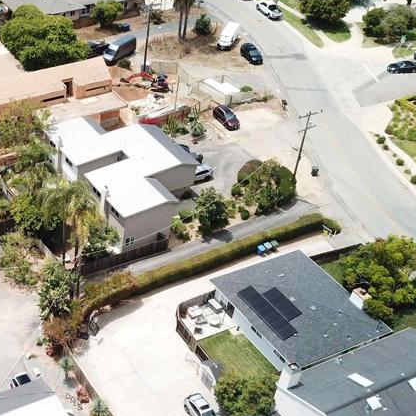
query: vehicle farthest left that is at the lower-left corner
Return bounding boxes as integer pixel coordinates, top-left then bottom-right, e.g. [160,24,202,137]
[5,365,31,389]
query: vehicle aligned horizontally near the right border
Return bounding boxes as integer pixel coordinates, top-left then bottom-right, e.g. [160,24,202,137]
[385,60,416,76]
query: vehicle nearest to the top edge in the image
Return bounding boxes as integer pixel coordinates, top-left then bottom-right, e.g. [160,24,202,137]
[253,2,286,21]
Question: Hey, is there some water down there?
No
